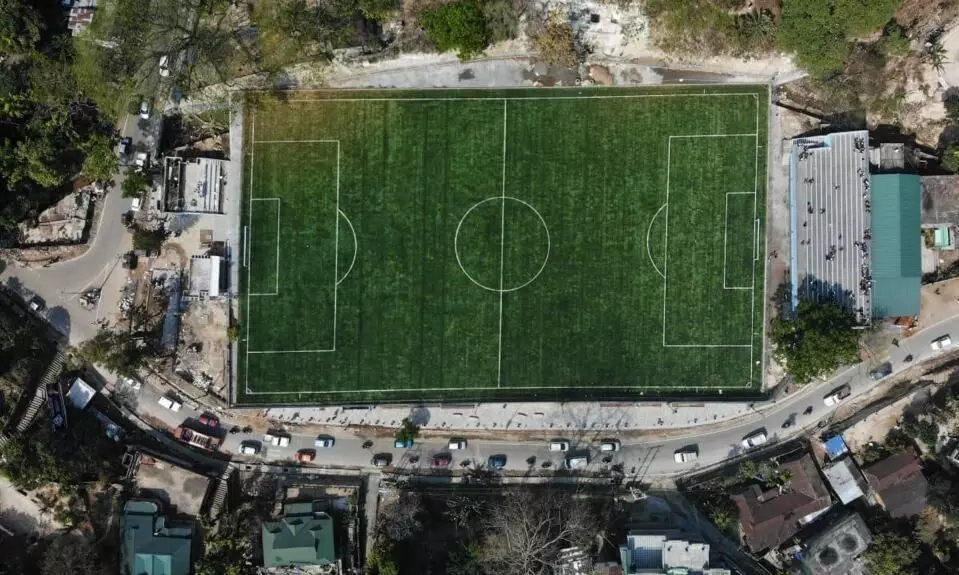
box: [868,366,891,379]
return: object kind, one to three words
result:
vehicle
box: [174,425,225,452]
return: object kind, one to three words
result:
truck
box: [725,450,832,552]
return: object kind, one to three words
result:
house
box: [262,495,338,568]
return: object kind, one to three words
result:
building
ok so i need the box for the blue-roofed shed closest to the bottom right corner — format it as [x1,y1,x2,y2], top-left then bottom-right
[820,435,848,458]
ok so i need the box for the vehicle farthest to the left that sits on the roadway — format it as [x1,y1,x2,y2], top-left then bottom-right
[28,297,44,311]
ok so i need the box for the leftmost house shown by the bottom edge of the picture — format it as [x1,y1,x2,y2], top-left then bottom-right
[125,499,200,575]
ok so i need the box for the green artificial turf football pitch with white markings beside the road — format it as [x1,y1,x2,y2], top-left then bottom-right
[237,85,769,405]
